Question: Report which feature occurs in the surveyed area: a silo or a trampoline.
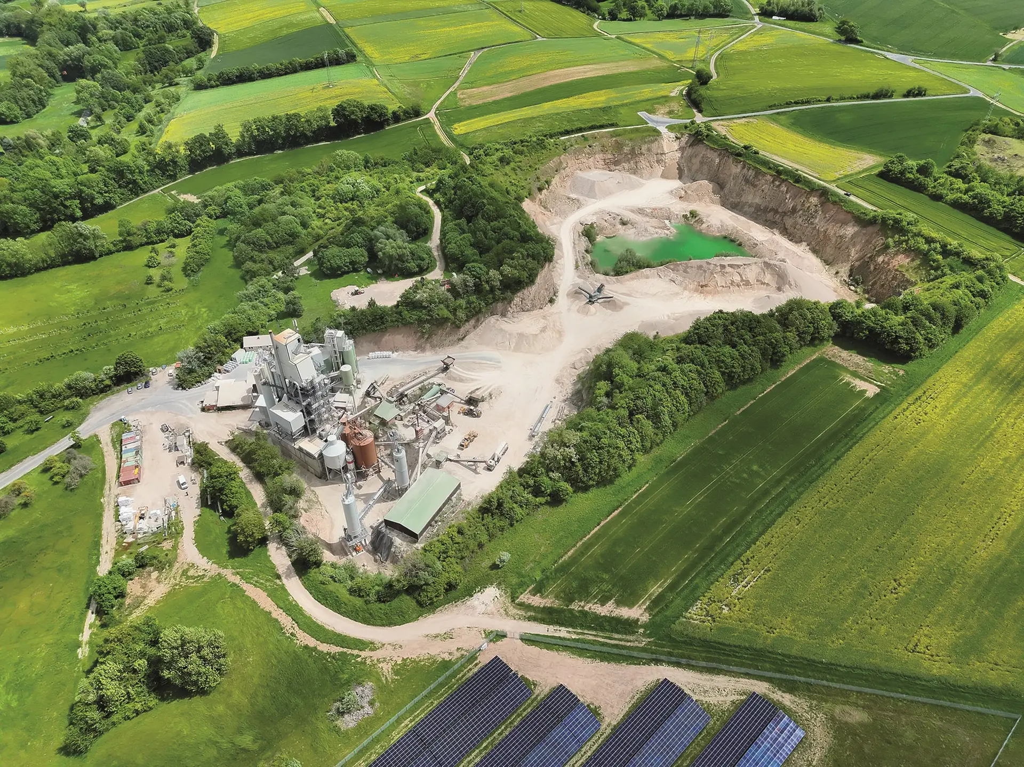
silo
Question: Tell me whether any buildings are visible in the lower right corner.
No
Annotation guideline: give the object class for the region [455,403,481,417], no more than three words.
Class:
work vehicle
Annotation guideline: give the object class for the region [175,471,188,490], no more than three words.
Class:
vehicle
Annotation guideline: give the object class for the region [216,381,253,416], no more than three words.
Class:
building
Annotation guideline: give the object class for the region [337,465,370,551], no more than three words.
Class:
silo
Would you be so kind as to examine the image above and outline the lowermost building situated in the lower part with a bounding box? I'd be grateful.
[384,469,461,544]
